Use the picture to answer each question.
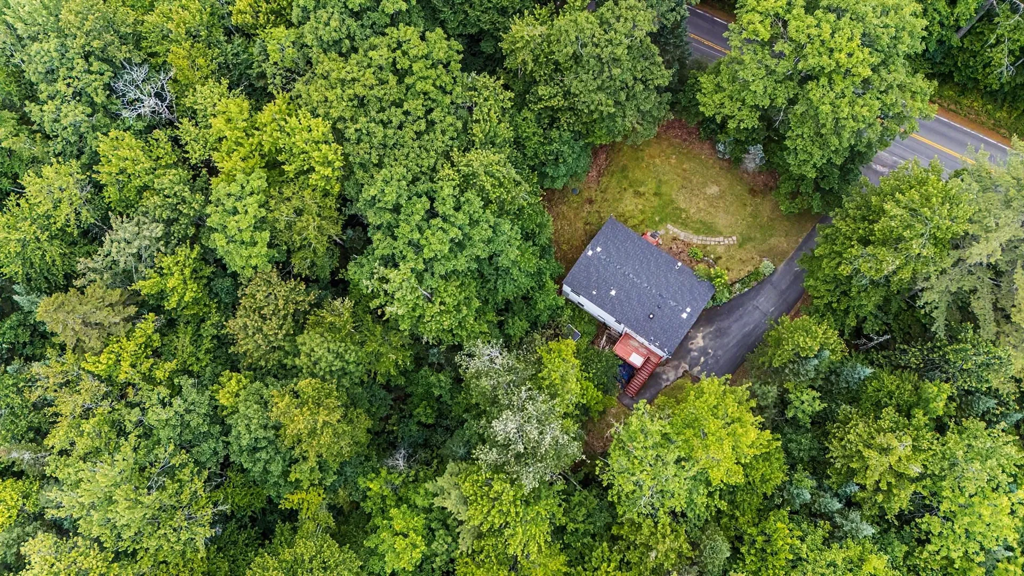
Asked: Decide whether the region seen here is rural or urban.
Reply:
rural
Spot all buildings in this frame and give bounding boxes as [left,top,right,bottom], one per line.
[562,217,715,362]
